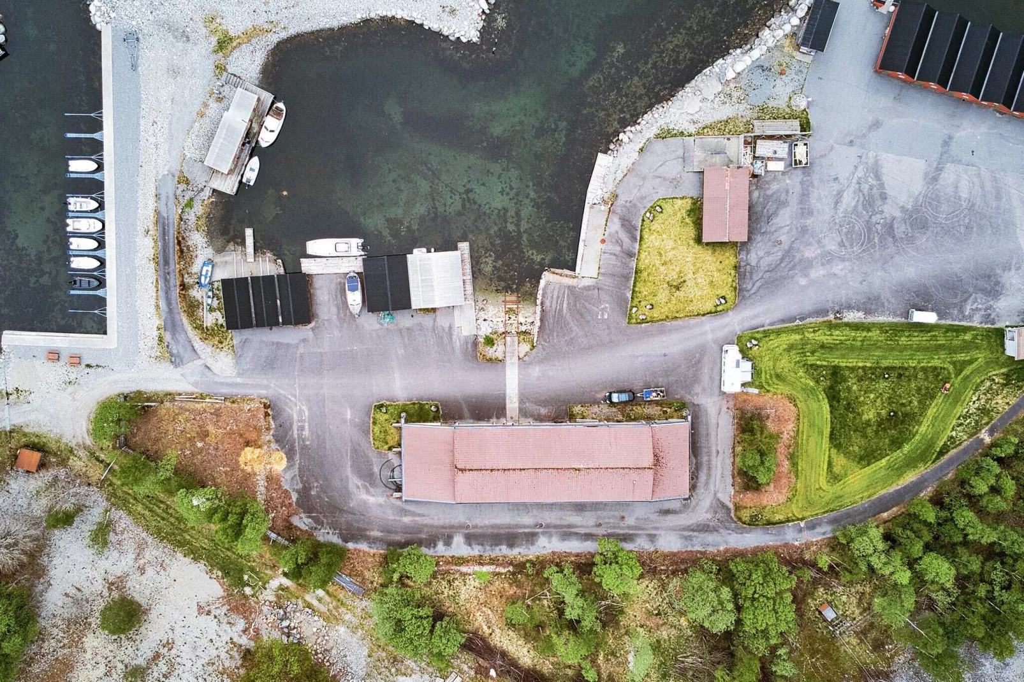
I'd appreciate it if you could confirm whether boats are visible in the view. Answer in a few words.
Yes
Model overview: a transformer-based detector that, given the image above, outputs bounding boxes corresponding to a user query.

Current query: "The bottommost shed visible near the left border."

[16,448,49,473]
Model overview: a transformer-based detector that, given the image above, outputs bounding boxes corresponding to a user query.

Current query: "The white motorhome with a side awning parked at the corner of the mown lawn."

[720,342,754,391]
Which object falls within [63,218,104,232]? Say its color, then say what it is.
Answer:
white boat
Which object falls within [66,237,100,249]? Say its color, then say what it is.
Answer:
white boat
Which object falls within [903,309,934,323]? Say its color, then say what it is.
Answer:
white camper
